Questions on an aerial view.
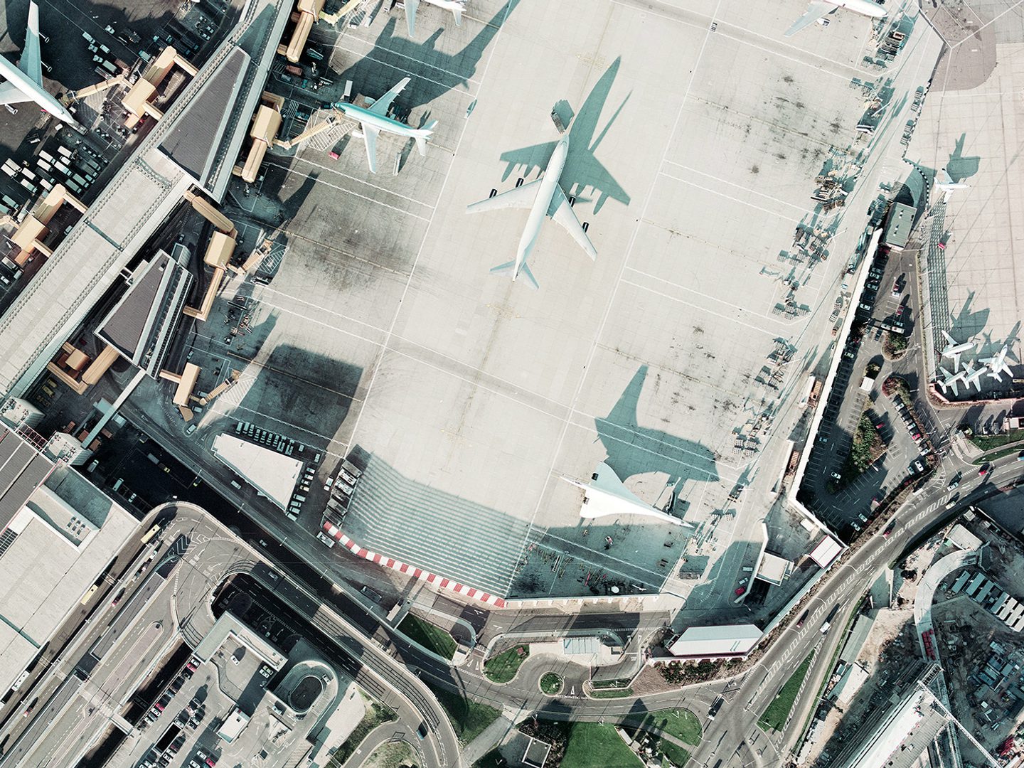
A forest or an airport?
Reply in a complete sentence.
This image shows an airport.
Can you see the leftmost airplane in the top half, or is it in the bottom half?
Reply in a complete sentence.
You can find the leftmost airplane in the top half.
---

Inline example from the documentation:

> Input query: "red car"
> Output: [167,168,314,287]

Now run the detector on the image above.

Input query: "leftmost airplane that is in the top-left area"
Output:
[0,1,74,123]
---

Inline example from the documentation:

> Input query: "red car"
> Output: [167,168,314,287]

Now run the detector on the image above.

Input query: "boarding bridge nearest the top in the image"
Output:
[321,0,366,25]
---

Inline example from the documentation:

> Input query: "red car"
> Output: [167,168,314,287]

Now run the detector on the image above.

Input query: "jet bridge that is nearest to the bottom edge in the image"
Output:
[191,370,241,405]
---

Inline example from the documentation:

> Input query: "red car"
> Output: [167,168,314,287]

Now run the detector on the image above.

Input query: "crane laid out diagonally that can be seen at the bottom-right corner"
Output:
[911,677,1010,768]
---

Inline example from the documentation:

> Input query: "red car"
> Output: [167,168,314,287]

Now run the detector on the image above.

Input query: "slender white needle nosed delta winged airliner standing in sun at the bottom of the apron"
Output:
[561,462,693,527]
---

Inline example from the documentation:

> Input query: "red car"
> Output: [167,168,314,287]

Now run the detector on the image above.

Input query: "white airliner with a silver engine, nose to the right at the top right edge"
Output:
[779,0,888,36]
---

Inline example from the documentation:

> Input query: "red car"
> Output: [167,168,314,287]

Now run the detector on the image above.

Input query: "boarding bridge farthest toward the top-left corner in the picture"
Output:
[62,71,133,104]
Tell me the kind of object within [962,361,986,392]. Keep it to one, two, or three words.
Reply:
airplane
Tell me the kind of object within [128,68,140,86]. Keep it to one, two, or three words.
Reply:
vehicle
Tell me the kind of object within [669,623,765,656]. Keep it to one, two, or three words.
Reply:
shed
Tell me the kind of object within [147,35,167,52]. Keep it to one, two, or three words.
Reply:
vehicle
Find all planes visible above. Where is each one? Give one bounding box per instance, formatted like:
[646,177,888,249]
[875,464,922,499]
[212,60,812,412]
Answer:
[939,365,964,397]
[935,167,970,204]
[466,136,597,285]
[939,330,976,373]
[980,346,1013,380]
[0,1,74,123]
[396,0,466,41]
[962,361,986,392]
[779,0,888,36]
[332,76,432,171]
[561,462,693,527]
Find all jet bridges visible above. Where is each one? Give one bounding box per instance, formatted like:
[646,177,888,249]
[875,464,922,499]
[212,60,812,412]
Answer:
[191,370,241,405]
[62,71,133,104]
[321,0,366,25]
[277,111,340,152]
[227,236,273,275]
